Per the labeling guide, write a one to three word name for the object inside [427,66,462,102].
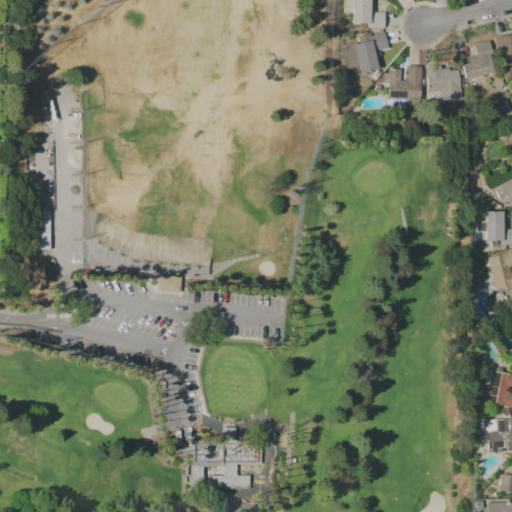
house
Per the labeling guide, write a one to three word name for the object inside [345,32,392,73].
house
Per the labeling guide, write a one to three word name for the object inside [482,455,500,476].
swimming pool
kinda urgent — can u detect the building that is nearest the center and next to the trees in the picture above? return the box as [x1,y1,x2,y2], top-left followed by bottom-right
[158,276,183,292]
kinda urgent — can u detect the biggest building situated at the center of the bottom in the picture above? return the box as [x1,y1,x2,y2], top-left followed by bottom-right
[206,464,253,488]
